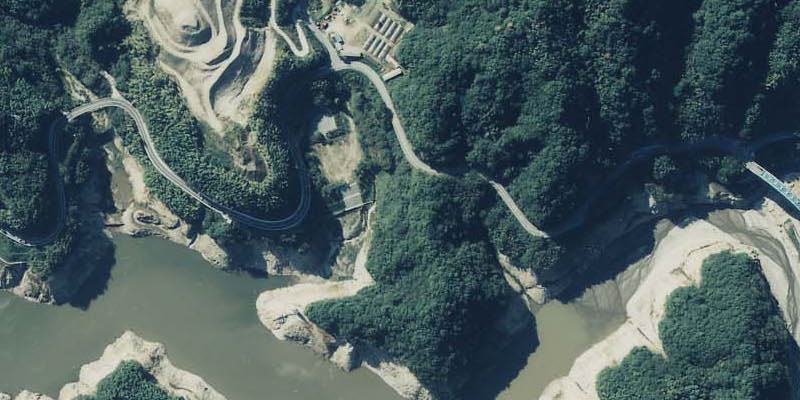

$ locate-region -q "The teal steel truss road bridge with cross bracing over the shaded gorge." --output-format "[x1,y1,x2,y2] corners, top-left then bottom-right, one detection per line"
[747,162,800,214]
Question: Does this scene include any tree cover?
Yes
